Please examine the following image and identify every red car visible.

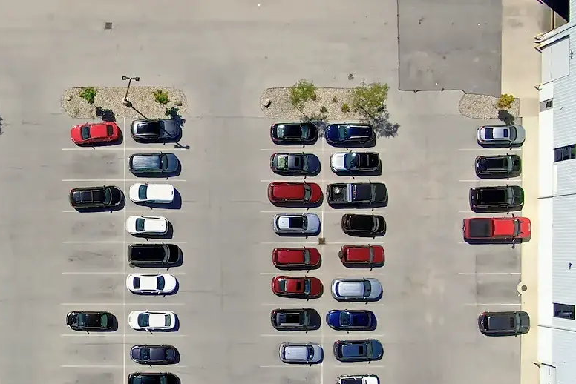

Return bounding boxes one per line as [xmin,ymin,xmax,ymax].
[337,244,385,267]
[271,245,321,269]
[270,275,322,298]
[71,122,119,146]
[267,179,322,205]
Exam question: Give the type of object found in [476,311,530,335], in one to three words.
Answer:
car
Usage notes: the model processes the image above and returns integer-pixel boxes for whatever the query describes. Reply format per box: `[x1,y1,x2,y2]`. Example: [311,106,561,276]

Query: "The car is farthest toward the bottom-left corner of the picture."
[66,309,115,333]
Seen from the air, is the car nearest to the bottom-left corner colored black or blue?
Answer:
black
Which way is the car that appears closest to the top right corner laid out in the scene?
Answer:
from left to right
